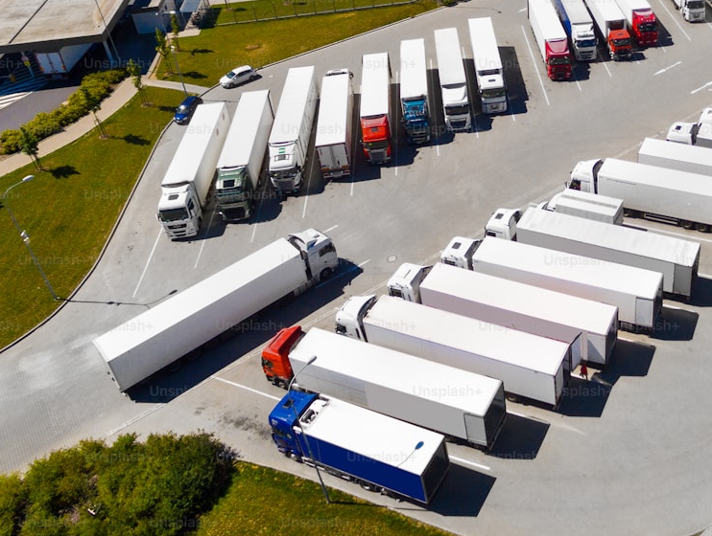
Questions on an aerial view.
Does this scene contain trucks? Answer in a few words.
Yes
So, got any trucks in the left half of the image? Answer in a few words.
Yes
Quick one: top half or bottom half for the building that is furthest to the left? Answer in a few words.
top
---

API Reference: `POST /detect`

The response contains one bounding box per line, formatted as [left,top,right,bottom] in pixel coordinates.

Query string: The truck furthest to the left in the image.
[34,45,97,78]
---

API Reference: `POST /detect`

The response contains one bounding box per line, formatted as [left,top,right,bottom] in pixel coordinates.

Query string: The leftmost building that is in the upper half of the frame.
[132,0,177,34]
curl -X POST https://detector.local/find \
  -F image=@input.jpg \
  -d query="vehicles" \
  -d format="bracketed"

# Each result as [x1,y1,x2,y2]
[400,38,434,144]
[211,89,277,221]
[258,326,506,449]
[387,263,618,369]
[93,229,341,396]
[34,45,97,78]
[154,101,233,239]
[541,188,623,226]
[566,158,712,231]
[615,0,661,47]
[316,67,355,178]
[259,392,451,509]
[670,0,710,24]
[360,52,396,165]
[171,93,204,119]
[469,17,508,115]
[330,293,571,407]
[434,27,474,130]
[220,61,259,84]
[265,67,319,190]
[553,0,600,63]
[583,0,636,60]
[528,0,576,80]
[485,207,701,300]
[442,236,663,334]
